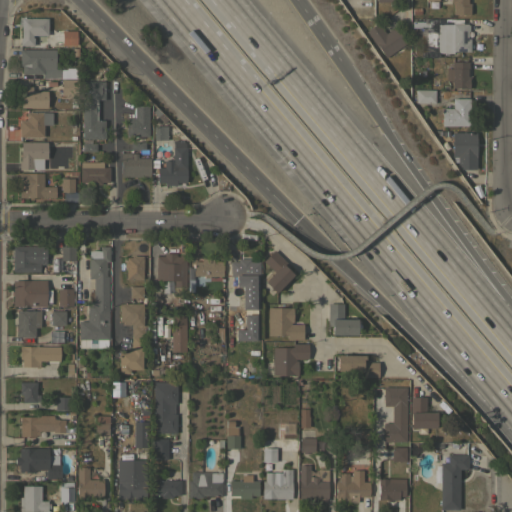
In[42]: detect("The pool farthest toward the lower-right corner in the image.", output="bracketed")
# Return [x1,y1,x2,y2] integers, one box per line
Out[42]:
[420,454,434,479]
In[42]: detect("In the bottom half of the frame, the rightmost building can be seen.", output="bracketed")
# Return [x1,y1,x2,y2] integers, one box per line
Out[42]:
[437,454,472,512]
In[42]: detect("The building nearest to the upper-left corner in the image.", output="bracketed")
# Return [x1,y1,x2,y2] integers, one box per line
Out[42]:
[22,18,50,46]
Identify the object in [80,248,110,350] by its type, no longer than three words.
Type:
building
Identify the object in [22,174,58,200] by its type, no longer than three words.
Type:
house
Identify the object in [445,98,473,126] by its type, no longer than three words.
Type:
house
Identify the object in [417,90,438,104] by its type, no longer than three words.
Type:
building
